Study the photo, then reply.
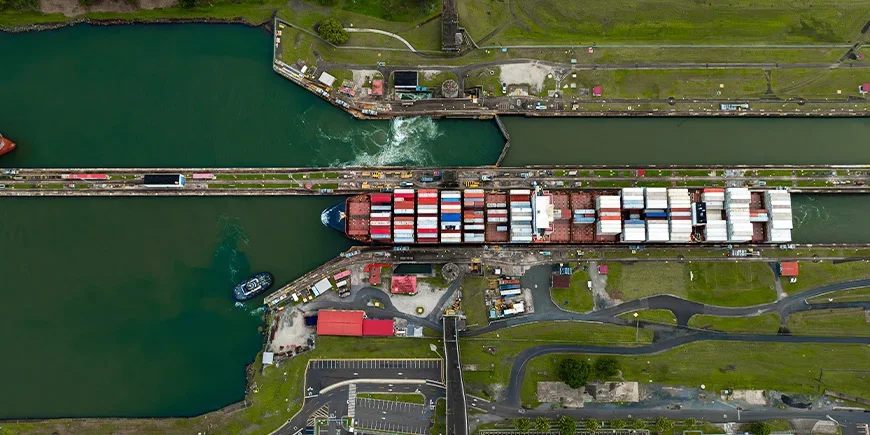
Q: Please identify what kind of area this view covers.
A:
port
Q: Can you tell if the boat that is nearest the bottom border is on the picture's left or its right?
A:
left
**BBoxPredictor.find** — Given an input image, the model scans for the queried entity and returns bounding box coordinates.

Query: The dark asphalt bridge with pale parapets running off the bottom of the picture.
[443,314,466,435]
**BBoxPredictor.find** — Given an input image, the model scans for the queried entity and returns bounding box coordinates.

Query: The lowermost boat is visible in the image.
[233,273,274,299]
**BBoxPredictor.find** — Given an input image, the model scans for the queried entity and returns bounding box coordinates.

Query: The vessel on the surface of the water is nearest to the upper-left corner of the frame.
[0,137,23,159]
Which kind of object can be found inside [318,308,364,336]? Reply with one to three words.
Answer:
building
